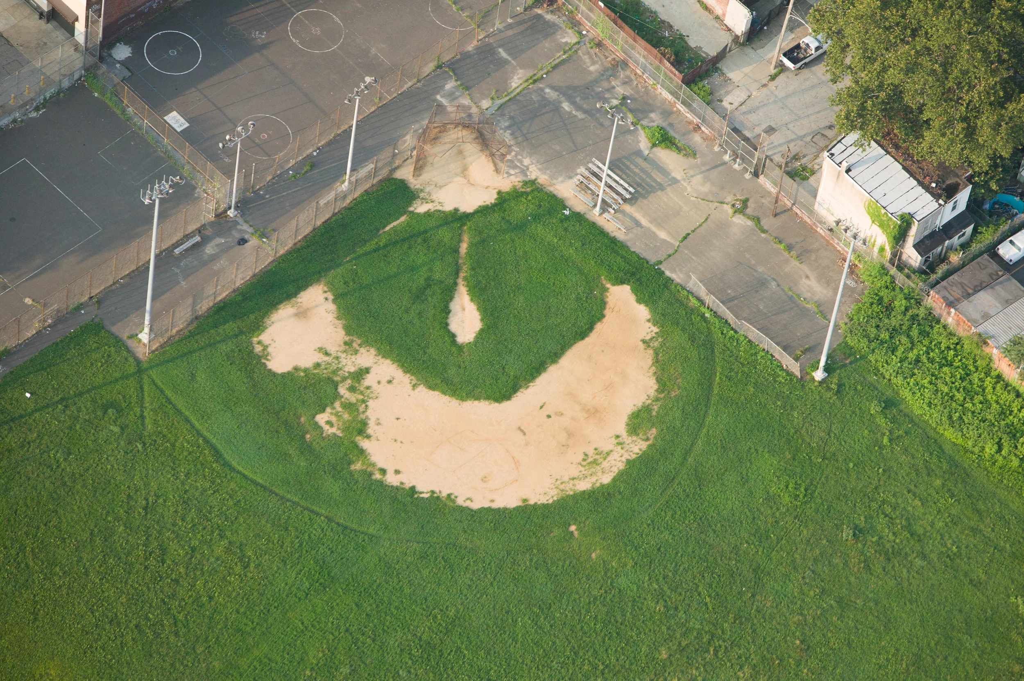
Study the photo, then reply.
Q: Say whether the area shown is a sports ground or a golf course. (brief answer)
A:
sports ground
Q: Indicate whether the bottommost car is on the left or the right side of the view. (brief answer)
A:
right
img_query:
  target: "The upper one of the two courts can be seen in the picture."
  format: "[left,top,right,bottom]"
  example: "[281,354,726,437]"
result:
[111,0,539,206]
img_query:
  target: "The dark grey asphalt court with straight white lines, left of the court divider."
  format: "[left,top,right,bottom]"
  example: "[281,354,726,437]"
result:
[0,80,226,355]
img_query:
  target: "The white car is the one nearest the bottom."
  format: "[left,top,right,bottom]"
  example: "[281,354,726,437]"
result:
[998,231,1024,265]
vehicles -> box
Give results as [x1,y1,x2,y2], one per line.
[998,231,1024,265]
[779,30,822,71]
